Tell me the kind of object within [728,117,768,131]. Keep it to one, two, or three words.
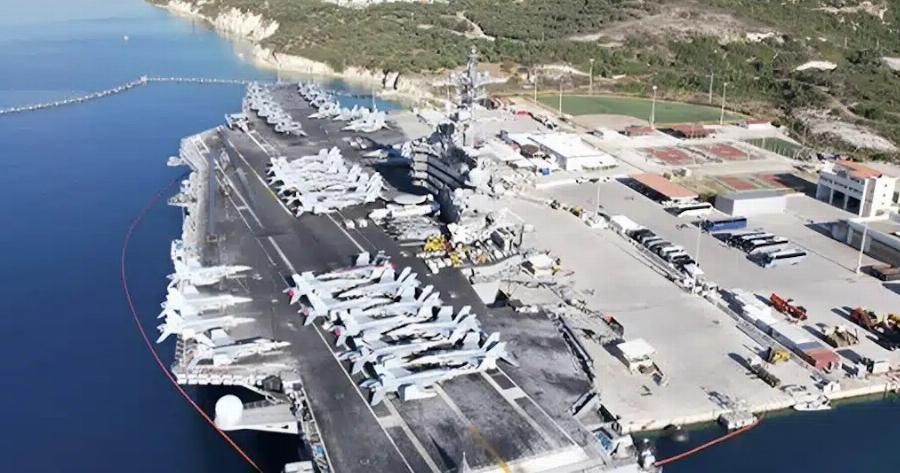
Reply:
shed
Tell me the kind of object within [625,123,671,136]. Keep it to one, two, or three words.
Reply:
shed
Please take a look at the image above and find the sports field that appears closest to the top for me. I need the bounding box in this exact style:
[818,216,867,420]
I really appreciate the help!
[521,91,745,131]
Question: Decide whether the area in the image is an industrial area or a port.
port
